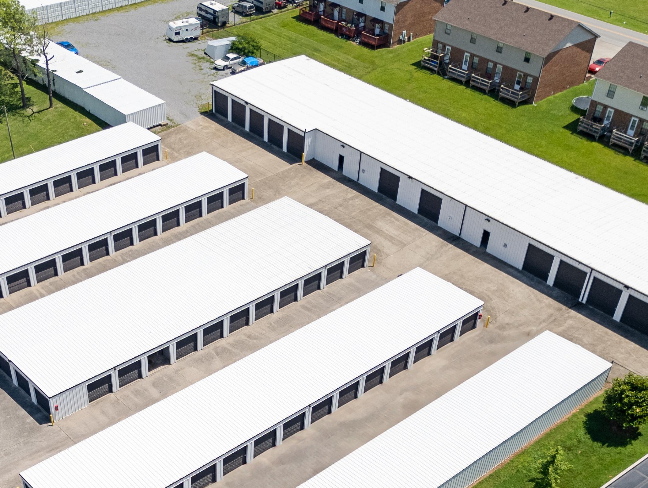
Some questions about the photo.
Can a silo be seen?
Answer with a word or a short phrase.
No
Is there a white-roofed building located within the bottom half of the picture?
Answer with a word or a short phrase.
Yes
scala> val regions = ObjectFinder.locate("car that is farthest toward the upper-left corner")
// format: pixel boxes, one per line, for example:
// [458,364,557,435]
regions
[57,35,85,53]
